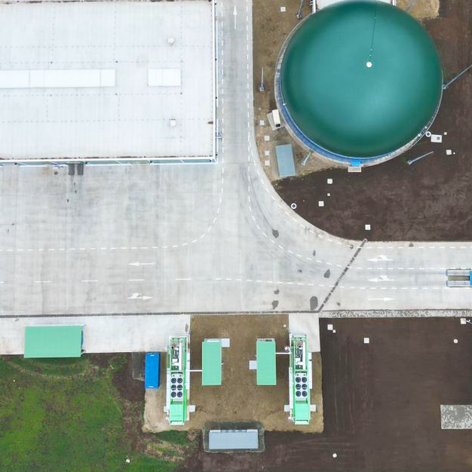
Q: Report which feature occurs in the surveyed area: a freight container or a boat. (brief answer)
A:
freight container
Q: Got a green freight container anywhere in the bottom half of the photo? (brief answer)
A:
Yes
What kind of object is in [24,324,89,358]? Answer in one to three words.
shed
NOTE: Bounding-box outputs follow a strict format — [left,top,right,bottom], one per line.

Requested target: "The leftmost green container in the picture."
[201,337,231,386]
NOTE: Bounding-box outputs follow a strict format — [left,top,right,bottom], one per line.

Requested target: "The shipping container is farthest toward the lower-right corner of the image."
[250,337,277,386]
